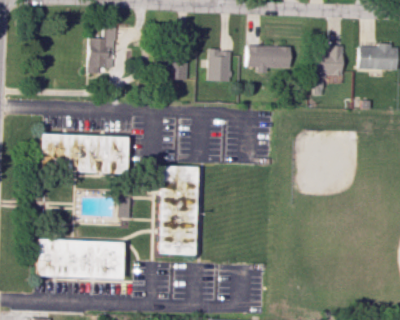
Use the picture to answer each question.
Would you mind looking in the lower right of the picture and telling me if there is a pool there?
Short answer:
No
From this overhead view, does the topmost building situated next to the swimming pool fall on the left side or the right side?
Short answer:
left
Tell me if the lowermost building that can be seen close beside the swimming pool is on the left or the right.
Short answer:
left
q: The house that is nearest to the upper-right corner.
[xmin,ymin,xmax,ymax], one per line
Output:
[358,44,400,70]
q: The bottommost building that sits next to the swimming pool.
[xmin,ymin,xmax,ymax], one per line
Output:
[36,238,126,280]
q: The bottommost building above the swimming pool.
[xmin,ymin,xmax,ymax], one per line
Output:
[40,134,130,174]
